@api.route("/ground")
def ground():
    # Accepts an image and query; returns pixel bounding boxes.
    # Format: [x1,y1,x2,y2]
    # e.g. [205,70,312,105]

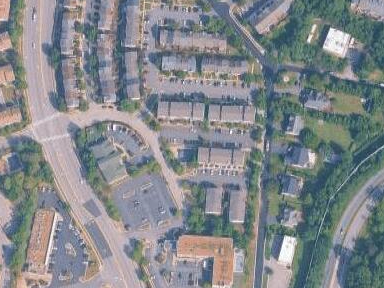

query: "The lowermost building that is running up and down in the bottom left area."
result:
[26,210,57,272]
